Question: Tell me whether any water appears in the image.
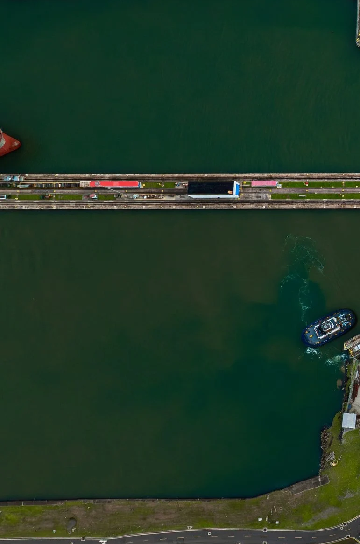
Yes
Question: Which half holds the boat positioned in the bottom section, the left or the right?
right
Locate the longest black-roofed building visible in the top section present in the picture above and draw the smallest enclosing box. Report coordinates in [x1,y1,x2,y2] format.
[187,181,239,197]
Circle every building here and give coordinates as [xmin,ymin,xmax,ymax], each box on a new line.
[342,413,358,429]
[90,181,144,188]
[252,180,279,187]
[187,181,239,197]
